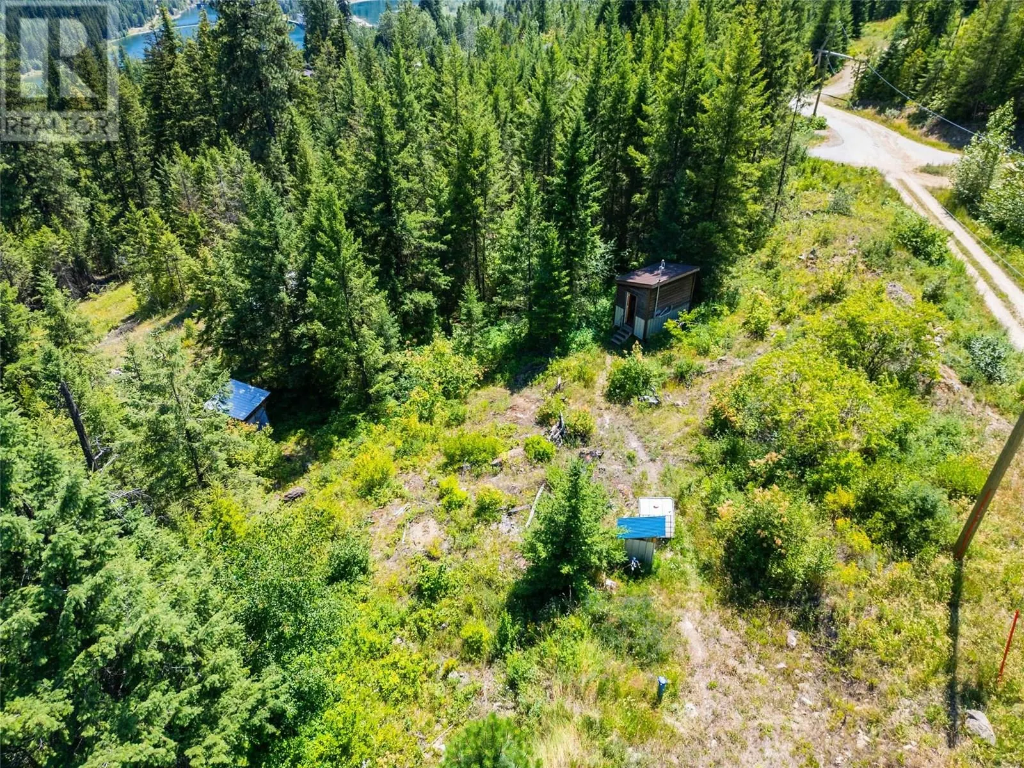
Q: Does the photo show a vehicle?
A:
No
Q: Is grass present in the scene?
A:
Yes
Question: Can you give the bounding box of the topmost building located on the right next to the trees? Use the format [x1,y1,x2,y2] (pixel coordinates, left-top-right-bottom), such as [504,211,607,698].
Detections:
[605,257,699,343]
